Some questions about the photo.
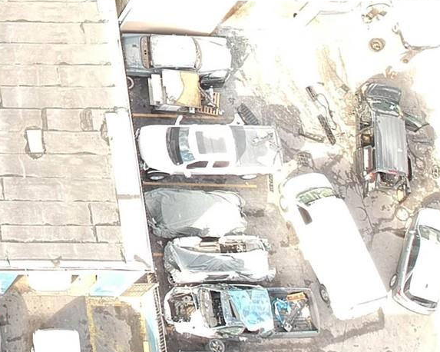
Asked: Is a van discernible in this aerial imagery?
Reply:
Yes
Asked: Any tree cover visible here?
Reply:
No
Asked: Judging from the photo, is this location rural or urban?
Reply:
urban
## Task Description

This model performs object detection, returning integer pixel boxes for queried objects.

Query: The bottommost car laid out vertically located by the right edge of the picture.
[391,207,440,317]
